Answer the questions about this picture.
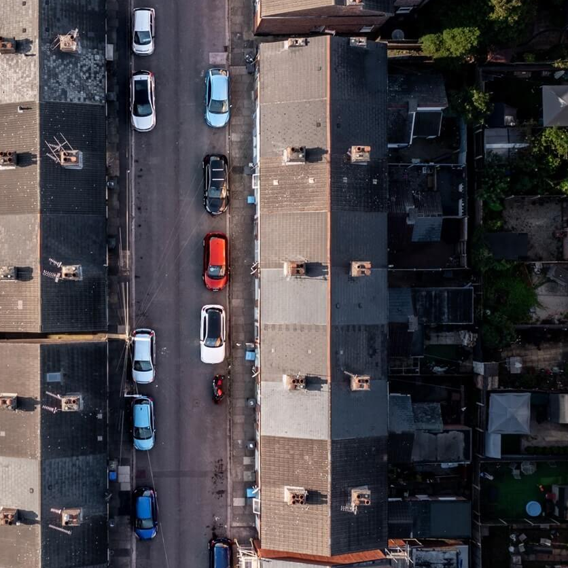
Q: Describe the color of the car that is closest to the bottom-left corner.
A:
blue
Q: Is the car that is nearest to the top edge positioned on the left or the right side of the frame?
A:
left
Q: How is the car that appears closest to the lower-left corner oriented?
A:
from top to bottom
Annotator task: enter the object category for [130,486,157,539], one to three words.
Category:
car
